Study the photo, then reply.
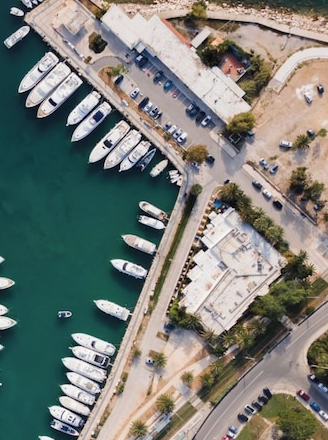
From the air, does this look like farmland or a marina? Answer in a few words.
marina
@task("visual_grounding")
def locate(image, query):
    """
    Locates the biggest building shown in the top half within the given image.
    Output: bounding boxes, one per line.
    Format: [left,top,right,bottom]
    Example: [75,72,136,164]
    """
[98,4,252,127]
